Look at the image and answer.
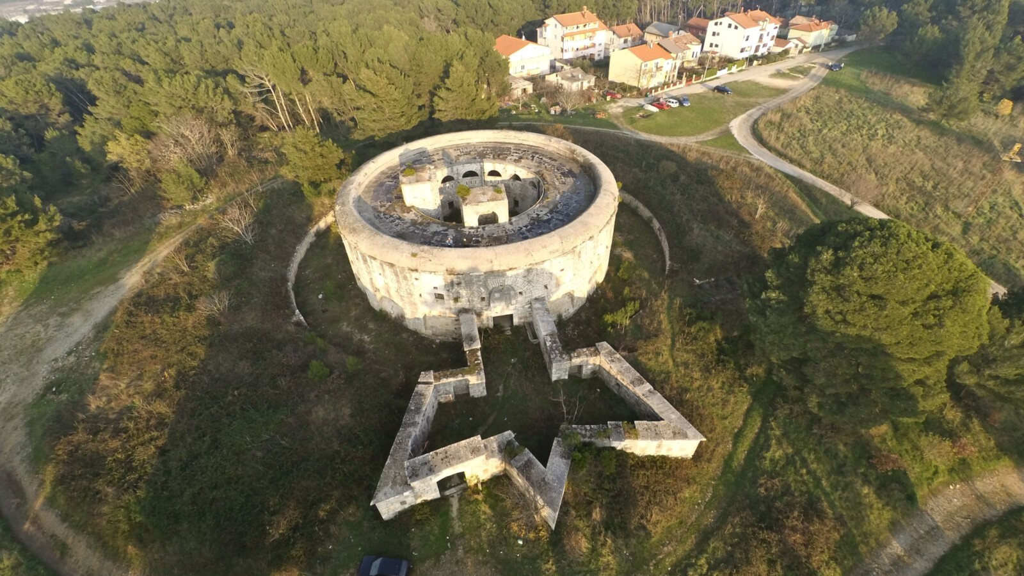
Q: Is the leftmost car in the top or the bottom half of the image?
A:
bottom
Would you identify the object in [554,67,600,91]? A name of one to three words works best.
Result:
house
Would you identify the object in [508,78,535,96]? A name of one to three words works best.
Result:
shed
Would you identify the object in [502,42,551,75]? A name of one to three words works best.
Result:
house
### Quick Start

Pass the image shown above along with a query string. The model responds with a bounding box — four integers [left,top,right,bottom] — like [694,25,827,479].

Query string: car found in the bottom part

[357,554,410,576]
